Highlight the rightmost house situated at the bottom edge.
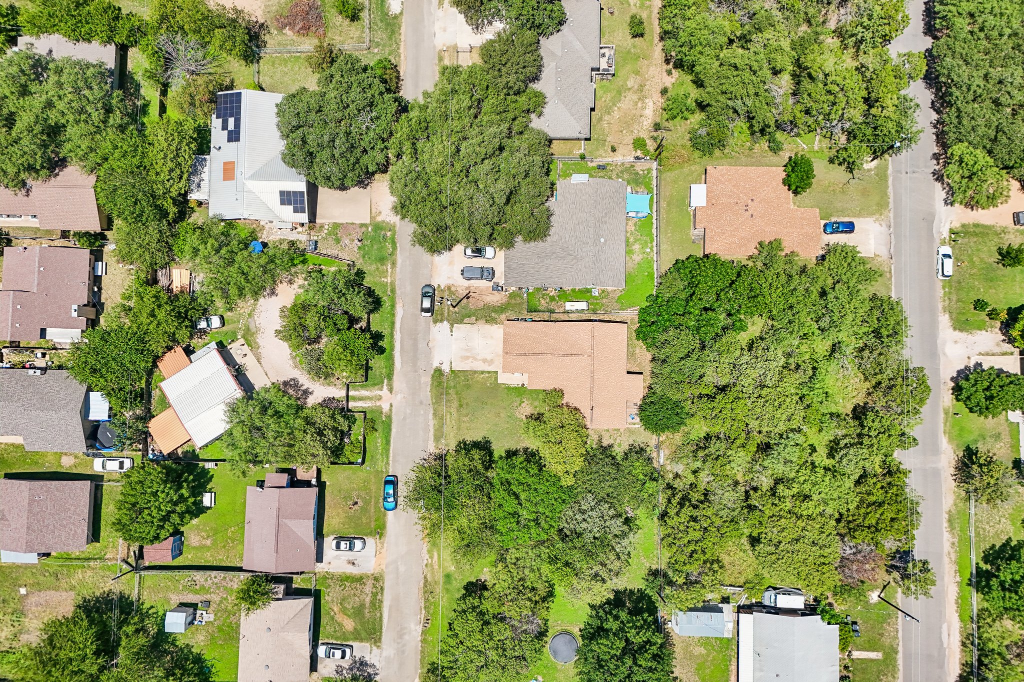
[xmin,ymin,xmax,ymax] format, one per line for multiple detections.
[733,608,840,682]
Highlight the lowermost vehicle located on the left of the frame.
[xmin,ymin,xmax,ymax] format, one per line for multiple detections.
[318,641,354,660]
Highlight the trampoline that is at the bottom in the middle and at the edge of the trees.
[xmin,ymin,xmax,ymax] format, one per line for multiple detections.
[548,629,580,663]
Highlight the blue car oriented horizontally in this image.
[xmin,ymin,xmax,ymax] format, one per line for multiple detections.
[821,219,856,236]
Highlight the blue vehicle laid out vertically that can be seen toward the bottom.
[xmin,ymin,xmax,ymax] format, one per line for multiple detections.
[382,474,399,511]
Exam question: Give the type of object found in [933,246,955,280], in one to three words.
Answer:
car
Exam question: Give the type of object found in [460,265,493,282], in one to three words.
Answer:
vehicle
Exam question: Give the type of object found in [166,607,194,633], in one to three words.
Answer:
shed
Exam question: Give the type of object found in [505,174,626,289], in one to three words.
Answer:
house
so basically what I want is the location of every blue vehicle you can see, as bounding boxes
[382,474,399,511]
[821,219,856,236]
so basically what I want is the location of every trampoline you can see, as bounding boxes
[548,629,580,663]
[89,421,122,450]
